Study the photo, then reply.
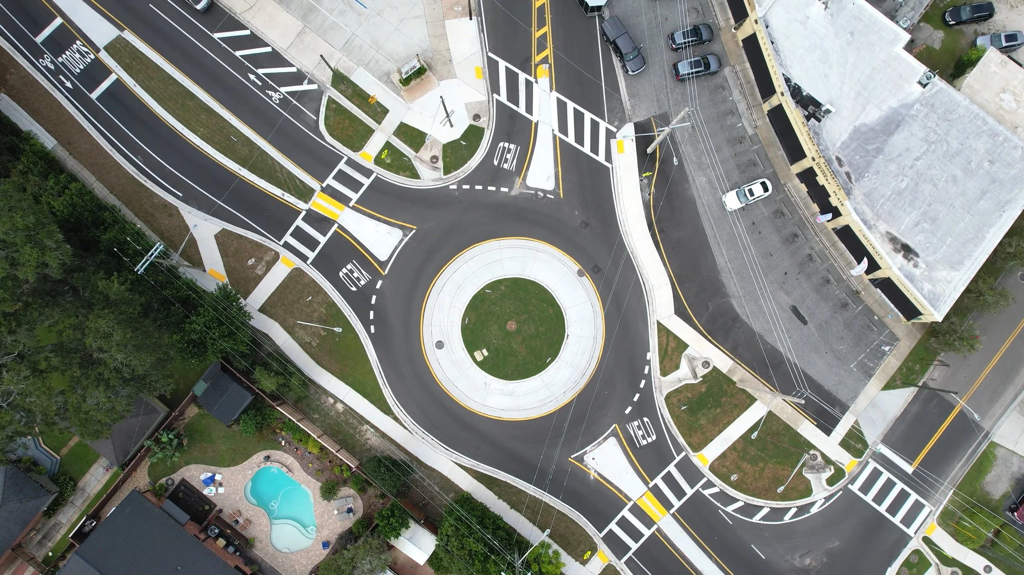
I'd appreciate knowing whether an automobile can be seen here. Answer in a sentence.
Yes, I can see an automobile in this picture.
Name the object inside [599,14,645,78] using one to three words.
truck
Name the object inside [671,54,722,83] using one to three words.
car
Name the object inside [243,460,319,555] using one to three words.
swimming pool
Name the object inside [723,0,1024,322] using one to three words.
building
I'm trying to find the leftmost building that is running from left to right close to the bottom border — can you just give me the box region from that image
[60,480,269,575]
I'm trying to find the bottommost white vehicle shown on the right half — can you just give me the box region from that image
[720,179,775,210]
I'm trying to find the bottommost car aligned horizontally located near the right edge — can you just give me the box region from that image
[974,29,1024,53]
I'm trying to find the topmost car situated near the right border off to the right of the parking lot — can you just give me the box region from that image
[941,0,997,29]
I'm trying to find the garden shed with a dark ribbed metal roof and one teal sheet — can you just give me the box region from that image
[191,365,258,425]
